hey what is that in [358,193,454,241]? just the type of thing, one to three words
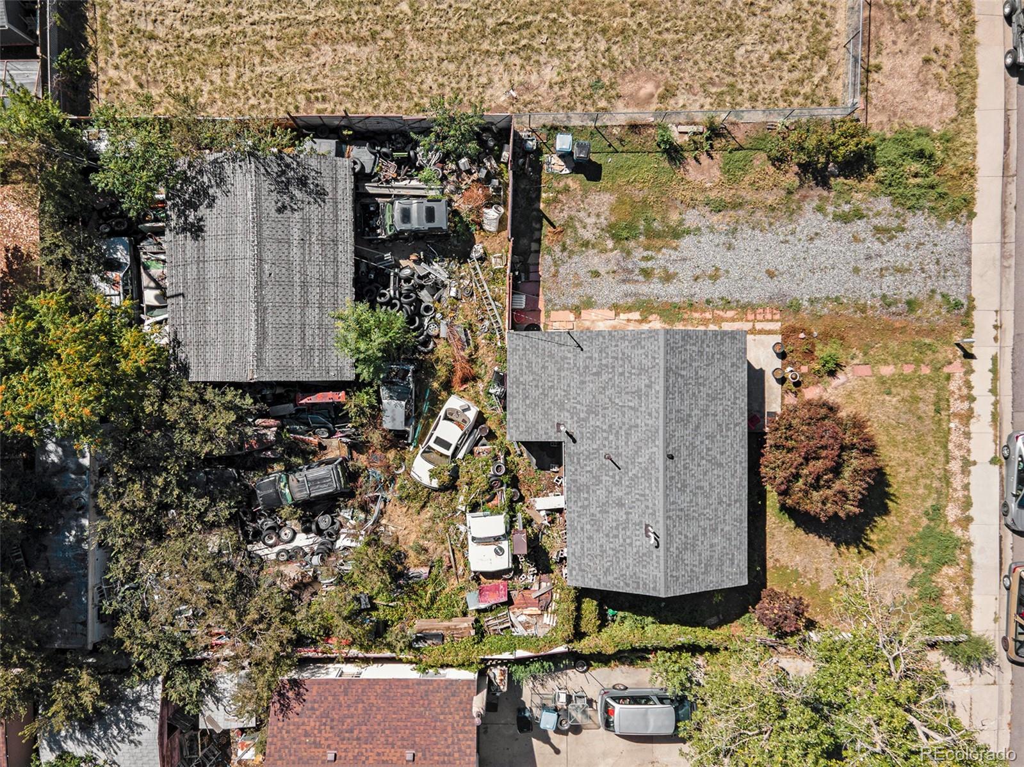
car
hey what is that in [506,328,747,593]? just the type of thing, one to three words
house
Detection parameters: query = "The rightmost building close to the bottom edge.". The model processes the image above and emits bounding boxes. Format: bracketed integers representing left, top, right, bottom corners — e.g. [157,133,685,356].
[262,660,488,767]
